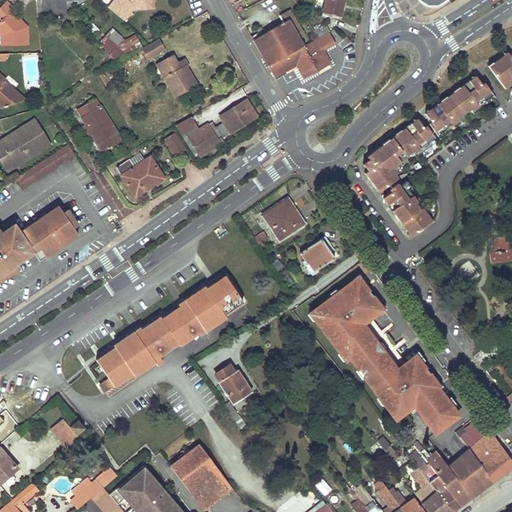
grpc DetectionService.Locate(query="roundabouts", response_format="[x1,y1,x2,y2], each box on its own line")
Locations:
[263,12,452,180]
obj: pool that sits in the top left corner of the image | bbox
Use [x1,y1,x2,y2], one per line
[22,52,40,90]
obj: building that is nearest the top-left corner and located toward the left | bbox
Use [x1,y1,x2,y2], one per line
[0,1,30,46]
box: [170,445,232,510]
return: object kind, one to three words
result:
building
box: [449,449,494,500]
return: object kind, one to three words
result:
house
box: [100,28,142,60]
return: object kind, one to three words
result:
house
